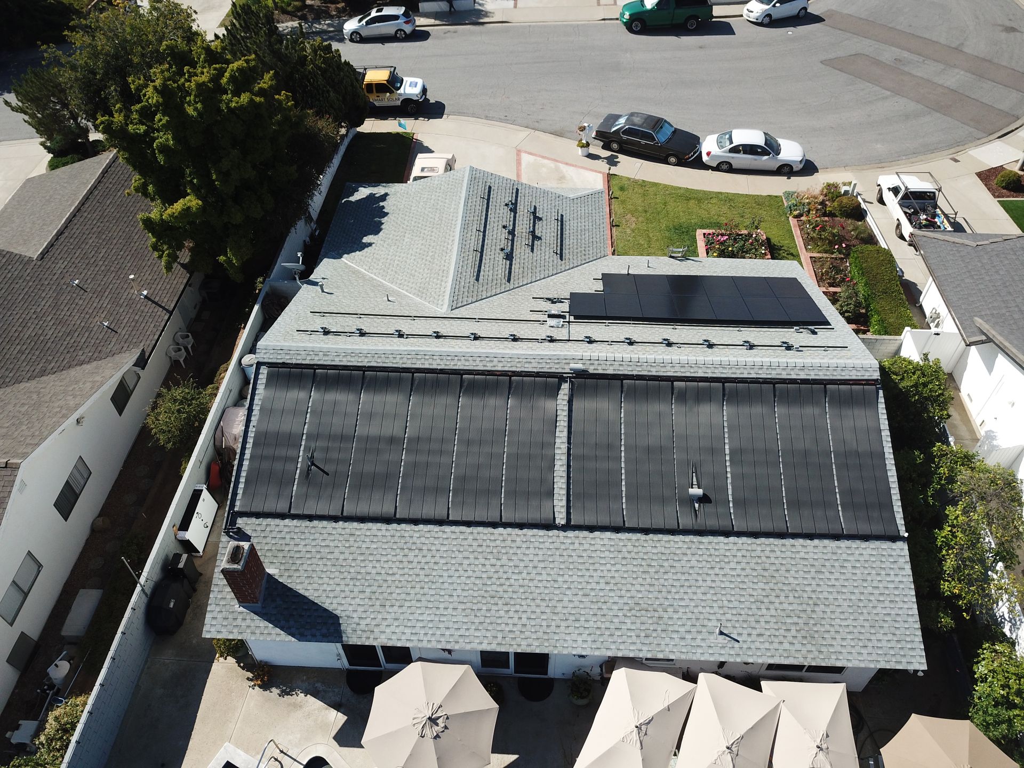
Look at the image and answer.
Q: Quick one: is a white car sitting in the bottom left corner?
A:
No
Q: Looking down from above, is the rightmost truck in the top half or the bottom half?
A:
top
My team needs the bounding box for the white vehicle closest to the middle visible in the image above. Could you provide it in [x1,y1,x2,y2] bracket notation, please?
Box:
[410,155,453,183]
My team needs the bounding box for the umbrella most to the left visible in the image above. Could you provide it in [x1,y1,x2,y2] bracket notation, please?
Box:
[362,662,499,768]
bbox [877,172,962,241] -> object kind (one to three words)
truck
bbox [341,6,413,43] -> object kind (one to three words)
car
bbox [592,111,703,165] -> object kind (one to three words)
car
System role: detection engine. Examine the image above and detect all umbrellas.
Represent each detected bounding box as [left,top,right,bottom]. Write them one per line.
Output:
[880,713,1016,768]
[675,673,777,768]
[573,668,696,768]
[362,662,499,768]
[762,682,861,768]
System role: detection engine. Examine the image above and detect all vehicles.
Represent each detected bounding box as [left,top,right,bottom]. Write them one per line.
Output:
[702,127,809,175]
[592,111,703,165]
[877,172,962,241]
[410,155,453,183]
[341,6,413,43]
[619,0,718,32]
[327,61,430,114]
[744,0,813,25]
